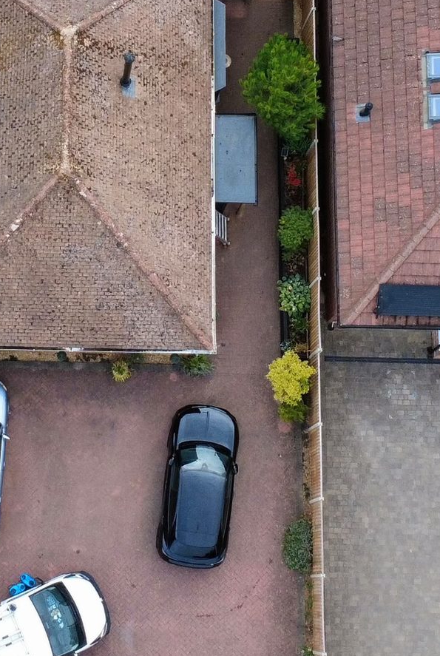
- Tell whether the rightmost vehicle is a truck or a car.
car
